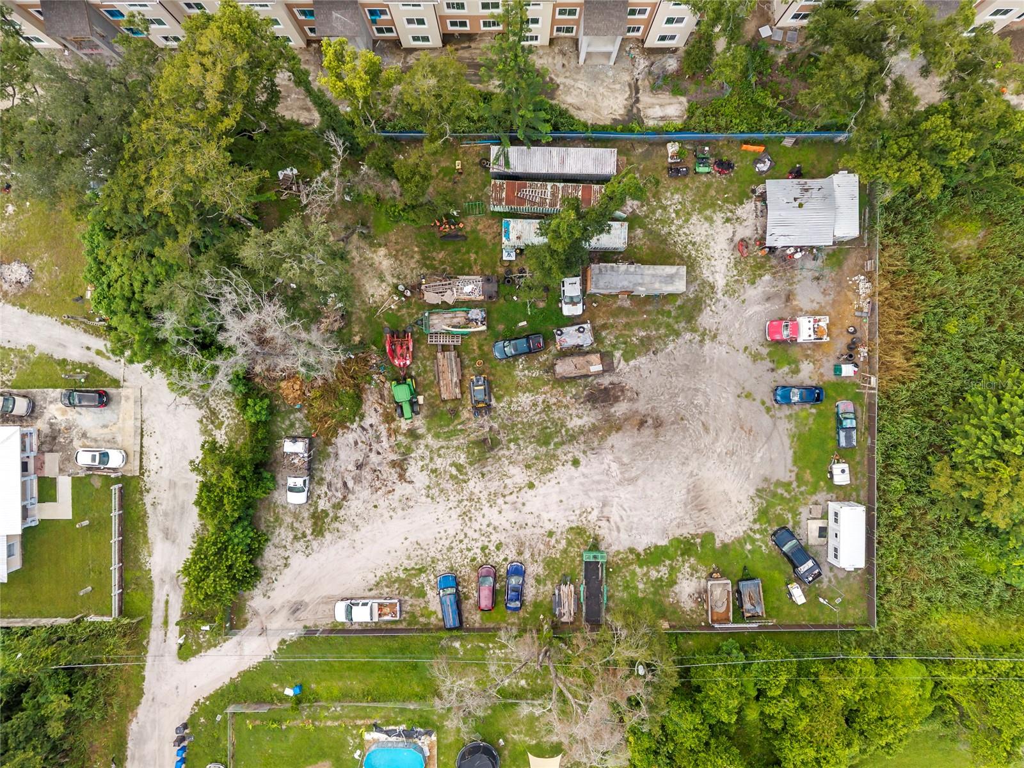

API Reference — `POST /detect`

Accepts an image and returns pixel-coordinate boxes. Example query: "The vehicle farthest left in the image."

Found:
[0,393,38,416]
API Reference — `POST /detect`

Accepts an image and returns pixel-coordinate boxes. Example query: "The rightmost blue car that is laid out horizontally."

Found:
[771,383,824,406]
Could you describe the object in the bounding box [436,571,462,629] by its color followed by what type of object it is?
blue car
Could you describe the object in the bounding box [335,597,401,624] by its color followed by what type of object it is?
white truck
